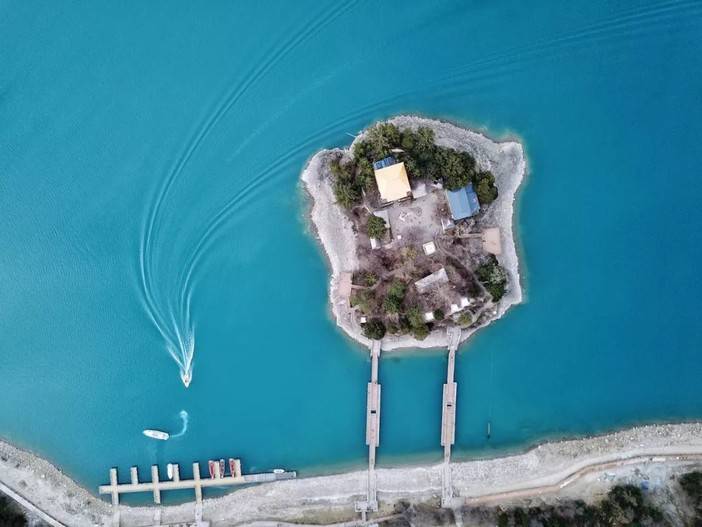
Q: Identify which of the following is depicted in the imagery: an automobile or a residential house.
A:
residential house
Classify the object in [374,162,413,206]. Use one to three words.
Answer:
building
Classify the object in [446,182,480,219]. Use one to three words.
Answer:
house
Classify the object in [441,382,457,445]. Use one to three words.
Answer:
pier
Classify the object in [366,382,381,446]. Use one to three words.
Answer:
pier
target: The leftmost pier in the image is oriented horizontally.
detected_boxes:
[99,459,297,507]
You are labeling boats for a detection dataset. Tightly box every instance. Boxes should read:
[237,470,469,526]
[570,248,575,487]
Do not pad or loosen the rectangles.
[184,371,190,387]
[167,463,172,480]
[208,458,214,479]
[142,430,170,440]
[219,458,225,479]
[229,456,235,478]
